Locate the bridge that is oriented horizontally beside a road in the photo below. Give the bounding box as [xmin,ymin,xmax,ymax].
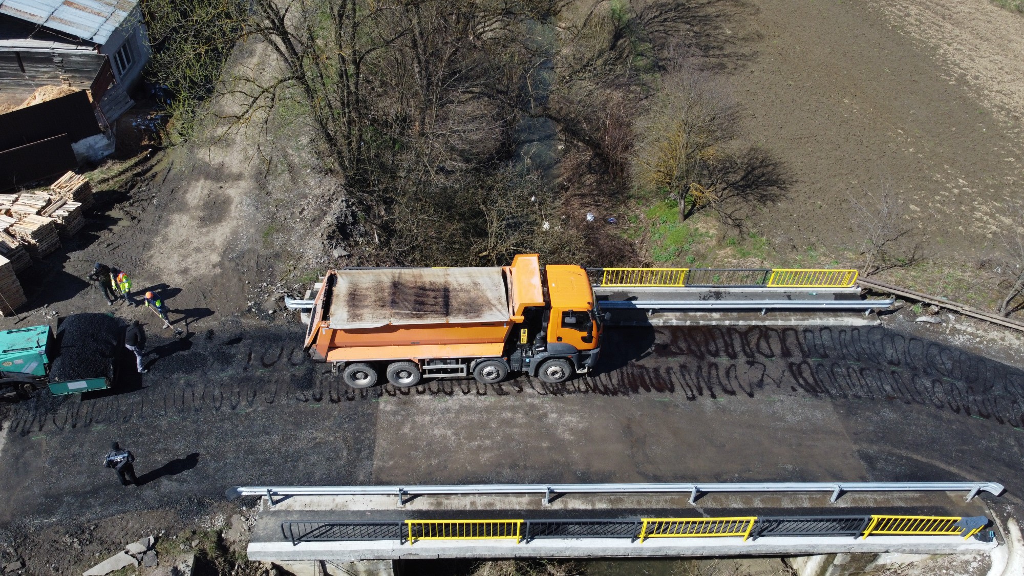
[245,486,1015,576]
